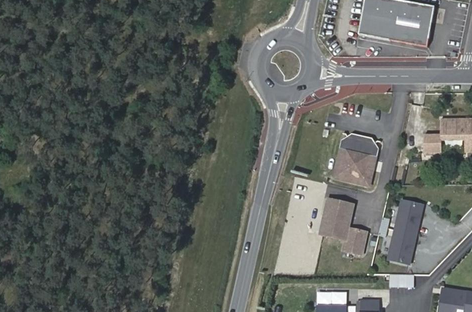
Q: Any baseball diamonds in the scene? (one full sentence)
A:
No, no baseball diamond can be seen from above.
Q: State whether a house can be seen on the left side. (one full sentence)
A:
No, no house appears on the left side.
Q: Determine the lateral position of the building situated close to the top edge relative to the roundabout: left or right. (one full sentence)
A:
Looking at the photo, the building situated close to the top edge lies to the right of the roundabout.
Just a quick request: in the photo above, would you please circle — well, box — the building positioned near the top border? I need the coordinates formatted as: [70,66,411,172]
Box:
[358,0,435,49]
